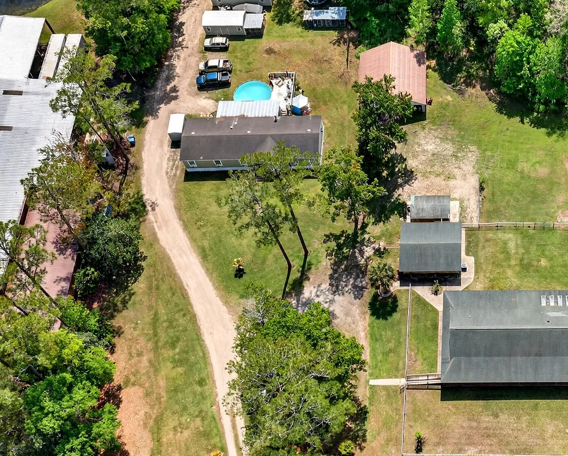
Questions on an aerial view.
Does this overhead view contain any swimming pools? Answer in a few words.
Yes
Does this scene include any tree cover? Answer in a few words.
Yes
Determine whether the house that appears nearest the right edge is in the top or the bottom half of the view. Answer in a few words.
bottom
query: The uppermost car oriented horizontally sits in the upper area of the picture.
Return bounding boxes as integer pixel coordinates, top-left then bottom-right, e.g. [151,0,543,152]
[202,37,231,51]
